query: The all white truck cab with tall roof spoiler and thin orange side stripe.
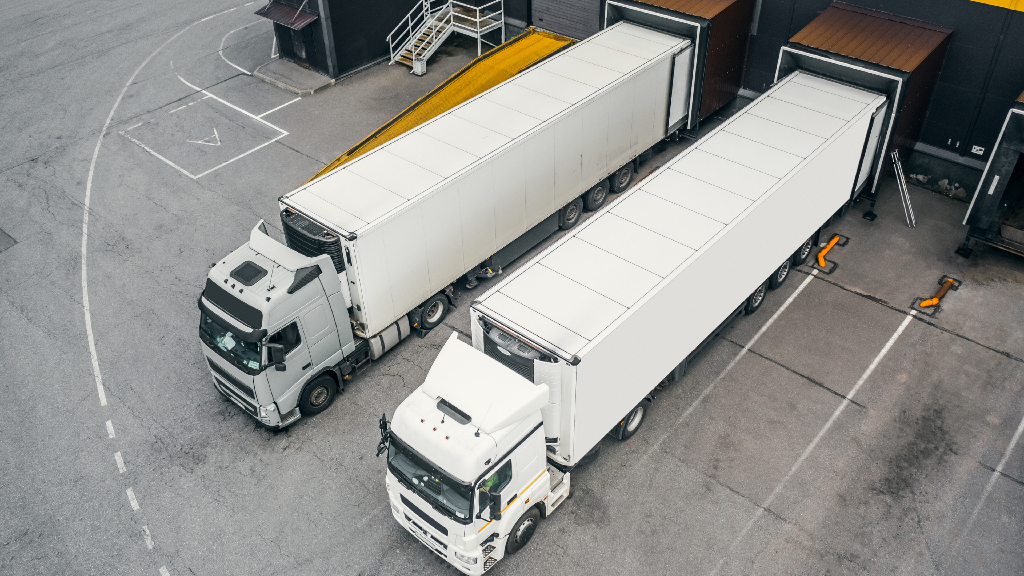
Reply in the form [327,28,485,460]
[367,329,569,576]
